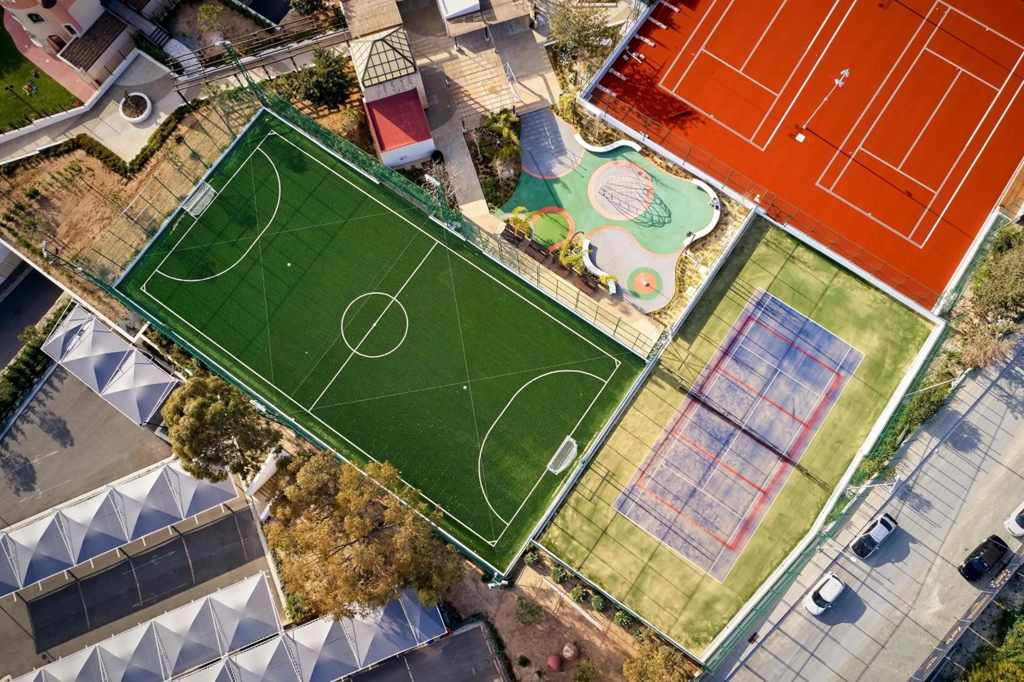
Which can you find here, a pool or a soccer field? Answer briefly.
soccer field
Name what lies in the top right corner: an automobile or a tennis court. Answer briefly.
tennis court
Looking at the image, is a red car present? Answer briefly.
No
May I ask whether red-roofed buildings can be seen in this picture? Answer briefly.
Yes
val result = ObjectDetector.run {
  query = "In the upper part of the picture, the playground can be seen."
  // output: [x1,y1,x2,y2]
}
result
[496,108,715,313]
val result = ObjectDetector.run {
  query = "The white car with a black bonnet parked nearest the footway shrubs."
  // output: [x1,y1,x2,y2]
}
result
[849,511,899,560]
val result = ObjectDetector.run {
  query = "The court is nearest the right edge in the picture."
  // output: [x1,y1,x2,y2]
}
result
[776,0,1024,313]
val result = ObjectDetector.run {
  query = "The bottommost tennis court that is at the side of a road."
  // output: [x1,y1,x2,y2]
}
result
[537,221,934,656]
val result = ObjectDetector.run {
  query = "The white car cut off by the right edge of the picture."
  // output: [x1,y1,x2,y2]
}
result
[1003,499,1024,536]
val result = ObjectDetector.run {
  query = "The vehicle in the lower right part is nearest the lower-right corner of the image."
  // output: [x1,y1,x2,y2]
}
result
[958,534,1011,583]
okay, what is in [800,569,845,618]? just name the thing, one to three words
car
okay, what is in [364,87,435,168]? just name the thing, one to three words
building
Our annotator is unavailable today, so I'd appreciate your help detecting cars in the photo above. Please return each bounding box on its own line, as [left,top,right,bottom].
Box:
[849,511,899,560]
[800,569,845,618]
[958,534,1011,583]
[1003,499,1024,536]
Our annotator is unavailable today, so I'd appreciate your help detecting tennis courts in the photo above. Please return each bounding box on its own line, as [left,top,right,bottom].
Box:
[776,0,1024,313]
[537,221,934,656]
[586,0,914,219]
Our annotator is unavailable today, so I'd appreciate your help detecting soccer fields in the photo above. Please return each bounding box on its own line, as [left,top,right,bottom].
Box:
[119,111,648,576]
